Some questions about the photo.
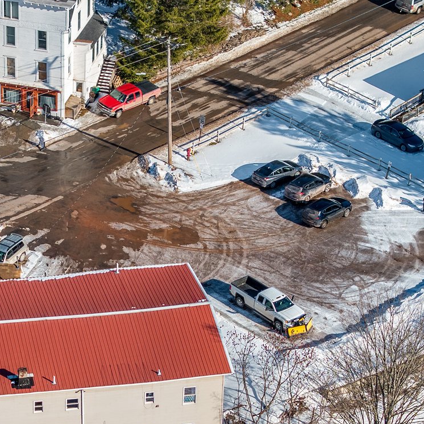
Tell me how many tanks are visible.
none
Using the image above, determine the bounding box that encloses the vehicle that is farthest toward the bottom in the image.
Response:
[231,281,303,331]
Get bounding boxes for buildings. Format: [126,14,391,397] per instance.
[0,0,144,128]
[0,262,234,424]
